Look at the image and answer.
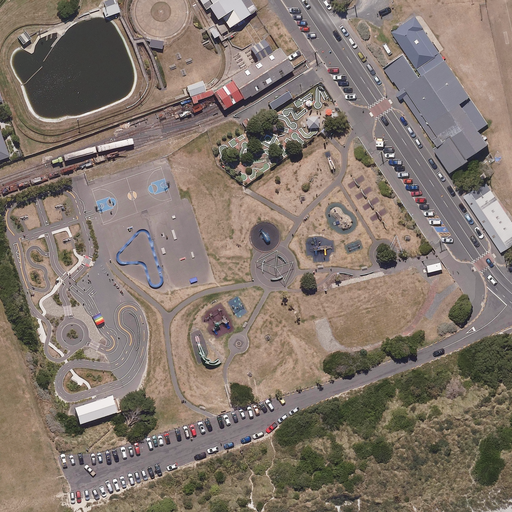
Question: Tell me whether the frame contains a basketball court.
Yes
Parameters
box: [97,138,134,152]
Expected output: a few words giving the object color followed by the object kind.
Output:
white rail car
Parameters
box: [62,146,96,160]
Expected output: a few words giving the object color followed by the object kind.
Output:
white rail car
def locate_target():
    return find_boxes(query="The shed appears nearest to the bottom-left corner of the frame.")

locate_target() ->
[75,396,118,424]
